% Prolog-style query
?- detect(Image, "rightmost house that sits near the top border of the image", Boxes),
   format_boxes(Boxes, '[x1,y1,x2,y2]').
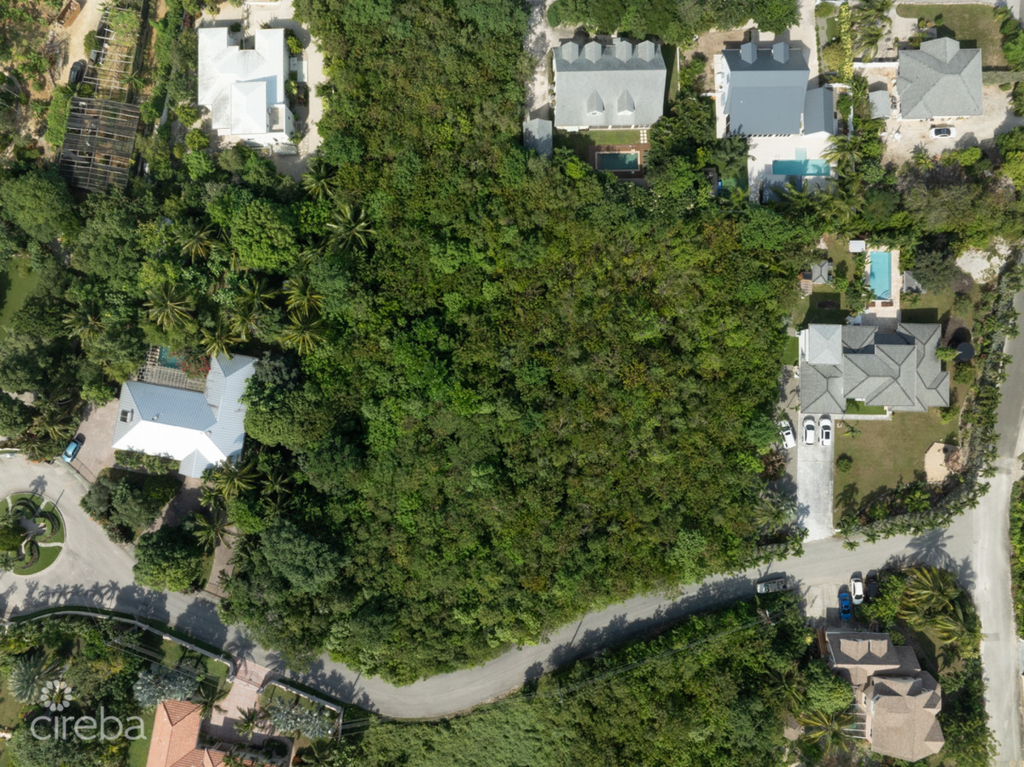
[889,36,982,123]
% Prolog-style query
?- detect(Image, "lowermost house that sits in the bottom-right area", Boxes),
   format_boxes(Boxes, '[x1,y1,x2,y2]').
[816,626,944,762]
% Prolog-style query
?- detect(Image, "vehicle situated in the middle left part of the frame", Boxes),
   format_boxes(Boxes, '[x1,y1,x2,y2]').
[62,436,83,463]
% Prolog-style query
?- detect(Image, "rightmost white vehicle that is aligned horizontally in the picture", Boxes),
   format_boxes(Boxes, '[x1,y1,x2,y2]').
[928,126,957,140]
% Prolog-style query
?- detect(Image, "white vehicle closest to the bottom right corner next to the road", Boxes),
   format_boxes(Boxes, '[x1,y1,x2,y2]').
[849,577,864,605]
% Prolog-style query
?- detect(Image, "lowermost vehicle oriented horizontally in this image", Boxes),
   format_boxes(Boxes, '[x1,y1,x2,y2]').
[755,577,788,595]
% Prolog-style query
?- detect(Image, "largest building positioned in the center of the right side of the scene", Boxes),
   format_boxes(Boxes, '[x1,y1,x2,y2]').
[793,324,950,413]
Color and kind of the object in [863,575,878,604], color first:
black vehicle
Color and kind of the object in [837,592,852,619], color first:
blue car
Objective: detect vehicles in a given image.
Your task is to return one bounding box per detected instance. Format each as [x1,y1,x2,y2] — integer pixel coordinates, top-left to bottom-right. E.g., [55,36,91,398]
[801,418,816,444]
[69,59,88,89]
[928,126,957,140]
[755,577,788,595]
[837,592,852,619]
[817,418,833,445]
[62,436,83,463]
[863,575,878,604]
[778,420,797,448]
[849,577,864,605]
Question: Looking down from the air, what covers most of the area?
trees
